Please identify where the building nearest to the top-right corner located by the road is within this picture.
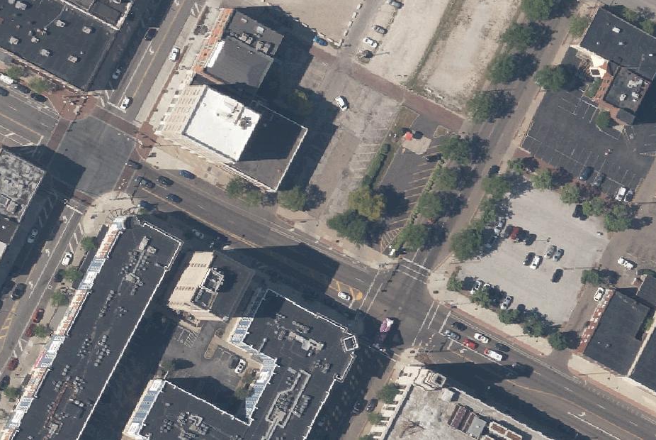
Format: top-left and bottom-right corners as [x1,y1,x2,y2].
[573,8,656,120]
